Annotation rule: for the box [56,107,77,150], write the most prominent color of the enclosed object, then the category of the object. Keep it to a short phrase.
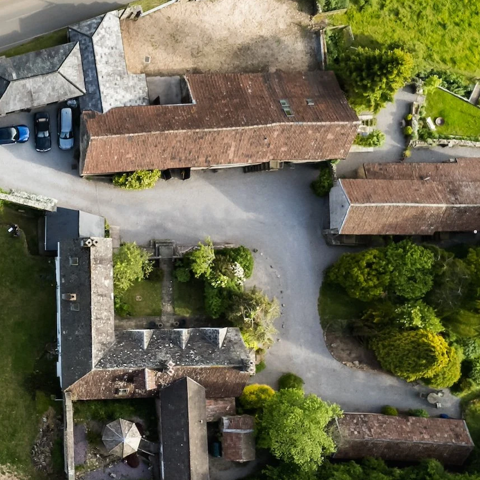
blue car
